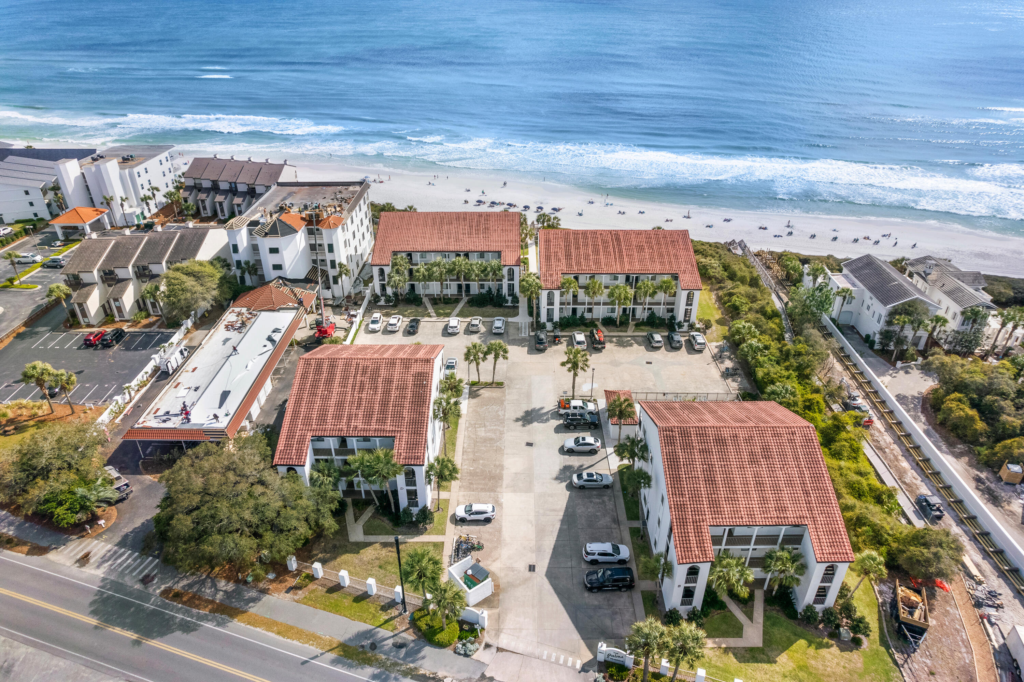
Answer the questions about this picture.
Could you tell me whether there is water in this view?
Yes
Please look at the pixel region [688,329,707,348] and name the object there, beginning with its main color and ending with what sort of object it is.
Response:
gray car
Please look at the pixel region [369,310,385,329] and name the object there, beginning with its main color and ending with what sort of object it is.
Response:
white car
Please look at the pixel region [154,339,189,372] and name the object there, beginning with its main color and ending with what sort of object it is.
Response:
white van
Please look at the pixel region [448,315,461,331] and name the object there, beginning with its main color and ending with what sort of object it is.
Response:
white vehicle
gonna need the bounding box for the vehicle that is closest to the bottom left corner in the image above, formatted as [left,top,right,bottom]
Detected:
[95,470,124,505]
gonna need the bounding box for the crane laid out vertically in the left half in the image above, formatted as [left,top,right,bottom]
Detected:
[302,207,350,340]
